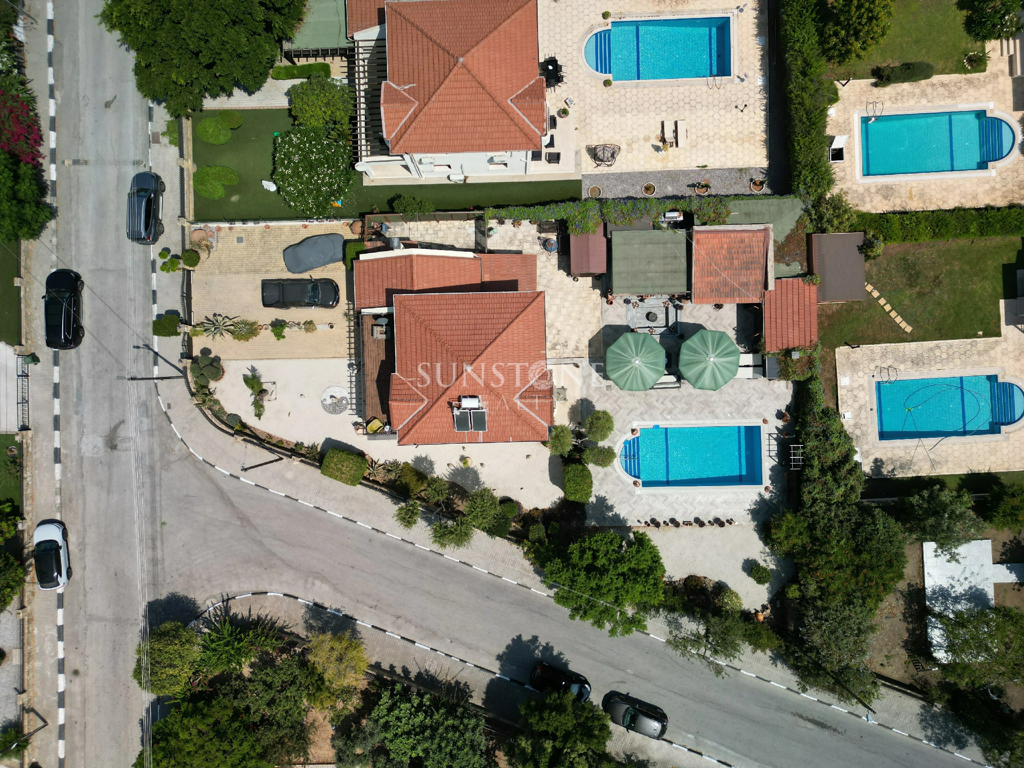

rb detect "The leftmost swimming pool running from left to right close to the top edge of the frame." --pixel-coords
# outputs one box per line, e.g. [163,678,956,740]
[577,8,741,89]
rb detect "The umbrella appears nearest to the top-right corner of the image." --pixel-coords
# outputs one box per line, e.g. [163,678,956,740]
[677,330,738,390]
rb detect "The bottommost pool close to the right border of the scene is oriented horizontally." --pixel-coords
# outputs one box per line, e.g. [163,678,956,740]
[868,365,1024,449]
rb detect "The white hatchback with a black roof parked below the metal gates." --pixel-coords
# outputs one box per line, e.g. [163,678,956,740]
[29,524,73,590]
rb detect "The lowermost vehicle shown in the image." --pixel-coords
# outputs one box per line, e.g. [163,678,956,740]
[603,693,671,745]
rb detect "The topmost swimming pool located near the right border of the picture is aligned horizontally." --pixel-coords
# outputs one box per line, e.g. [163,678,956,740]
[853,101,1023,185]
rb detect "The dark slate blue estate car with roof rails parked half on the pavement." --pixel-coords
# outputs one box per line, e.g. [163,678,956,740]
[122,171,163,243]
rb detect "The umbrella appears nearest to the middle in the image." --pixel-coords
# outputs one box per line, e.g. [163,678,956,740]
[606,333,663,390]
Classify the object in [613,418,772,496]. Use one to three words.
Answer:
swimming pool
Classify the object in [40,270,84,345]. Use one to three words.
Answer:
car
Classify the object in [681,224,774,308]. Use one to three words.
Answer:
building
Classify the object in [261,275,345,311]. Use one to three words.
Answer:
vehicle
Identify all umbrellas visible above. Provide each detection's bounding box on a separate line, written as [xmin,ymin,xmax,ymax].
[677,330,738,390]
[606,333,663,390]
